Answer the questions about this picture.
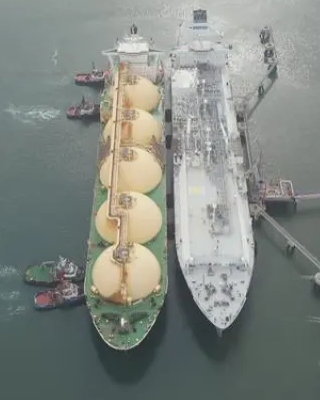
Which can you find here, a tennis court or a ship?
ship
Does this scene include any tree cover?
No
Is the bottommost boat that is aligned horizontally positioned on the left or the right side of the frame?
left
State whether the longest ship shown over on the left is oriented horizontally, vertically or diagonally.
vertically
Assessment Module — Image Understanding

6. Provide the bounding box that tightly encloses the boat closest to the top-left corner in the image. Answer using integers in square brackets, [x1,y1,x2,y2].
[73,64,105,84]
